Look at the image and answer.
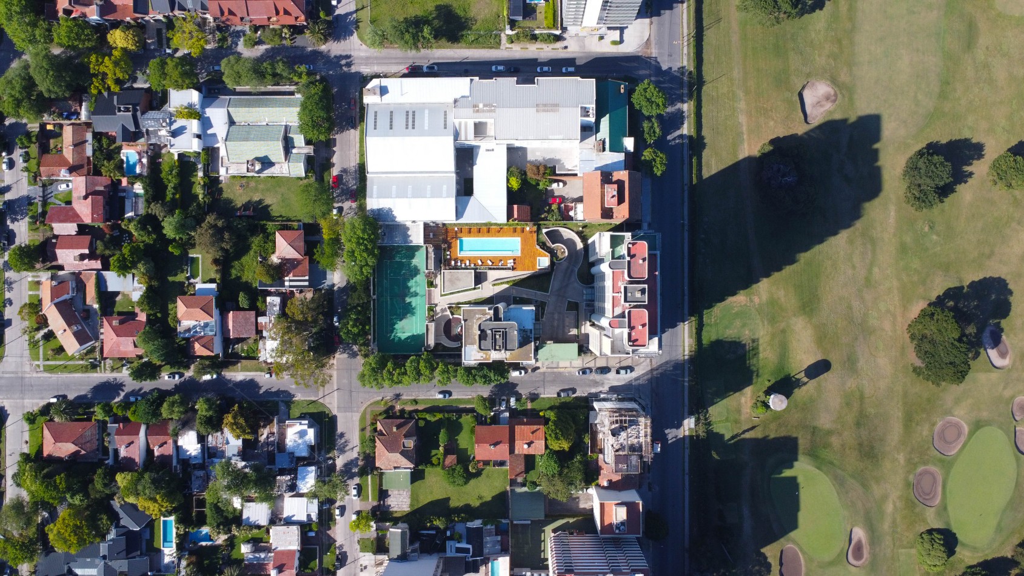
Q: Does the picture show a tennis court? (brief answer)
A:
Yes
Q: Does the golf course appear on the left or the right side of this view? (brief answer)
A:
right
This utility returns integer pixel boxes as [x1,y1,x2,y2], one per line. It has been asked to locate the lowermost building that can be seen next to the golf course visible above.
[544,525,652,576]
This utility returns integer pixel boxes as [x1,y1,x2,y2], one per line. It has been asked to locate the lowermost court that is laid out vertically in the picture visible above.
[377,246,425,354]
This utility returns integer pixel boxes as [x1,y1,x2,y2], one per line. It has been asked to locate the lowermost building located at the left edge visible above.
[33,494,155,576]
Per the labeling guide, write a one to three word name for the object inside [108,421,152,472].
house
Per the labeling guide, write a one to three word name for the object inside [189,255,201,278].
swimming pool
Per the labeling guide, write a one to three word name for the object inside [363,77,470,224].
building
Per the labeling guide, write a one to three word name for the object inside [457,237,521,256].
swimming pool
